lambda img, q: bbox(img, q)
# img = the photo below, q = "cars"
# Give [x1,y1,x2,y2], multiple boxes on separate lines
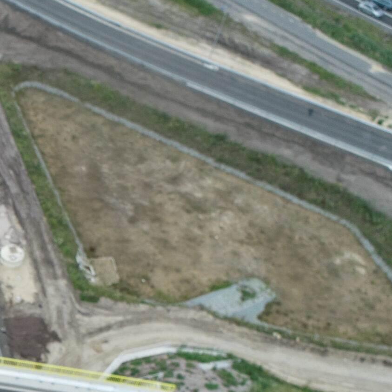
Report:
[371,0,392,10]
[356,0,385,17]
